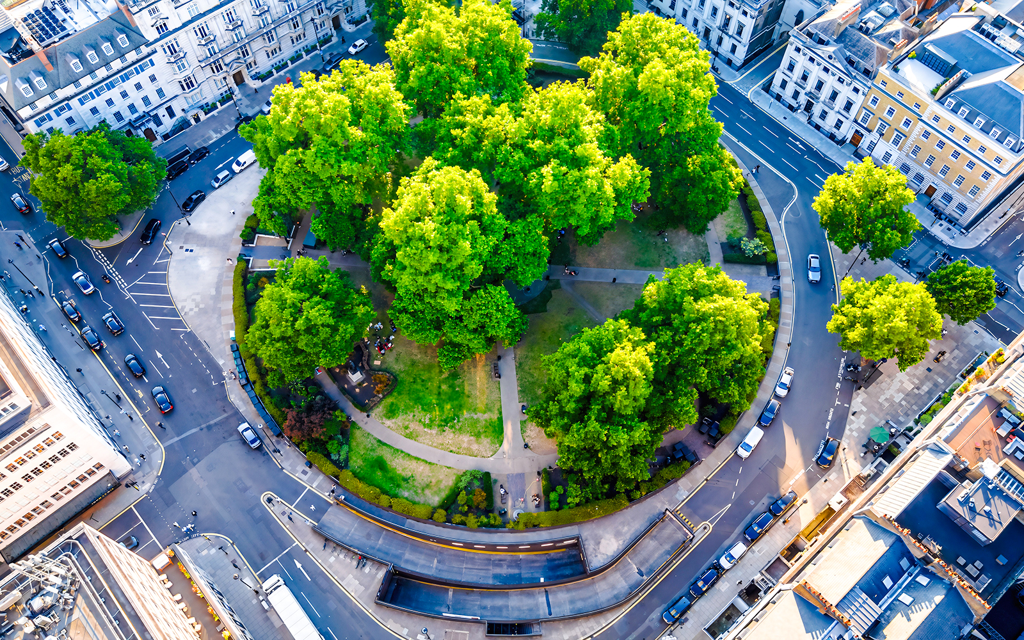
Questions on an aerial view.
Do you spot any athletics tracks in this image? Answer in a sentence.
No, I find no athletics track anywhere in the image.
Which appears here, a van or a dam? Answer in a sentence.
The image shows a van.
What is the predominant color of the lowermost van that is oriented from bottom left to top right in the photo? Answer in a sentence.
The color of the lowermost van that is oriented from bottom left to top right is blue.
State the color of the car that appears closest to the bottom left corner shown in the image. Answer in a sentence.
In this view, the car that appears closest to the bottom left corner is blue.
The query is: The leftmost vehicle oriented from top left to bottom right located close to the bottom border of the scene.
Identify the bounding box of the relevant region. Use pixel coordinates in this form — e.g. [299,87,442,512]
[262,569,329,640]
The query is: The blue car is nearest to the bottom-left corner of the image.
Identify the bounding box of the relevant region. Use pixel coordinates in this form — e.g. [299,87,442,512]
[118,530,144,550]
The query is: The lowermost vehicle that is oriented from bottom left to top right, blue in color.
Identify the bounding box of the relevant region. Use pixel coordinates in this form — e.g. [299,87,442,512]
[660,590,695,627]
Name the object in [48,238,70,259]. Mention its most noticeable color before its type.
blue car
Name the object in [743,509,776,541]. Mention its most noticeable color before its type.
blue car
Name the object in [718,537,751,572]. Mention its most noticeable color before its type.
white van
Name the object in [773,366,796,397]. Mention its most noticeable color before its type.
white car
